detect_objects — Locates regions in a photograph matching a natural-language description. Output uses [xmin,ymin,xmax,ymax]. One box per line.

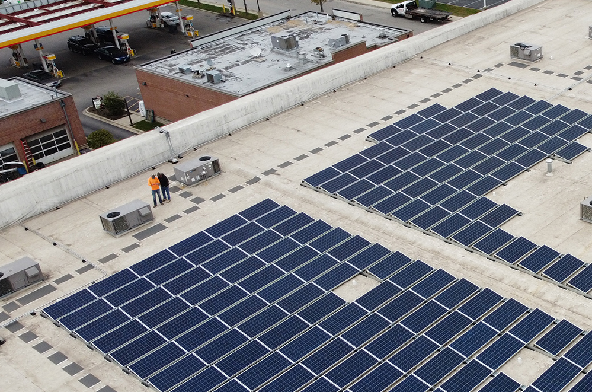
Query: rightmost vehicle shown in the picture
[389,0,458,22]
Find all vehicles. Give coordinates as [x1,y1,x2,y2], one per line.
[92,43,131,62]
[389,0,458,22]
[154,9,182,26]
[90,23,129,43]
[61,31,102,53]
[20,64,62,84]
